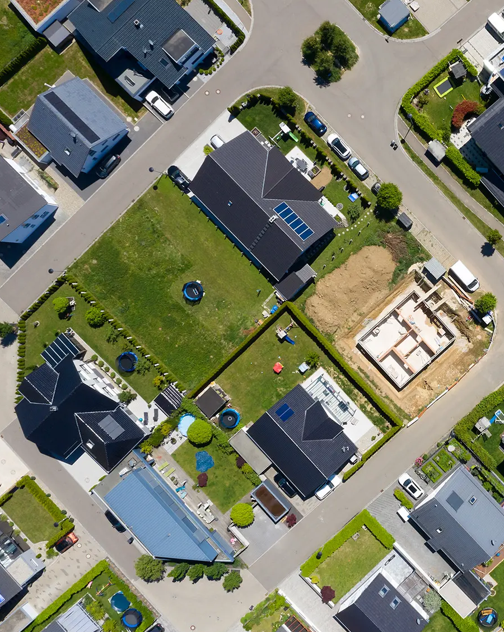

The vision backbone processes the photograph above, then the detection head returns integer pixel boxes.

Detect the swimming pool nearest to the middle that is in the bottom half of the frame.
[176,415,196,436]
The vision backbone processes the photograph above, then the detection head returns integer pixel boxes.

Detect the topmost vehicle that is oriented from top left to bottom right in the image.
[485,8,504,39]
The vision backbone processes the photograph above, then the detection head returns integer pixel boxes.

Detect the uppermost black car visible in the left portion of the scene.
[158,83,182,105]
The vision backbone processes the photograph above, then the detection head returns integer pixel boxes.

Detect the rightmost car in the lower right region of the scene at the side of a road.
[397,471,426,502]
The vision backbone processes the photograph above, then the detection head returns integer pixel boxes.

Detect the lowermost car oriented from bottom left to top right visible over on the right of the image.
[313,473,343,499]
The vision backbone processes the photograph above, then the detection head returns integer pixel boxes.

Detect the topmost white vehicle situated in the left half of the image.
[144,89,175,121]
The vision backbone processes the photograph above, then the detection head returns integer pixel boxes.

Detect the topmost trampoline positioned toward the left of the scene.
[182,281,203,302]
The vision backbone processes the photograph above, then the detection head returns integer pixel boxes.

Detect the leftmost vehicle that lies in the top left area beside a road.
[96,152,124,180]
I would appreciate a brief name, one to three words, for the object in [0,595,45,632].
building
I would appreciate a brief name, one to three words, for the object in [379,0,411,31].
shed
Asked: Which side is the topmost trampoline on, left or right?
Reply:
right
